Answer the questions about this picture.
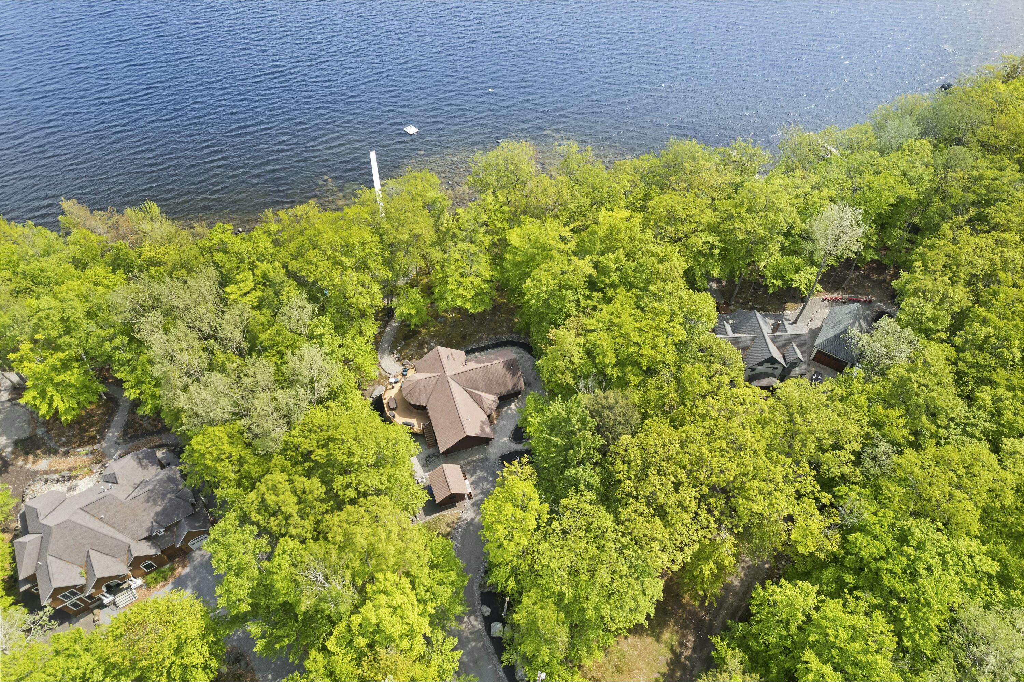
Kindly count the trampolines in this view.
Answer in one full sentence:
There are no trampolines in this view.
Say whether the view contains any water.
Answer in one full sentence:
Yes, there's water in this view.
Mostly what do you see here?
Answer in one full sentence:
The largest share of the image is taken up by trees.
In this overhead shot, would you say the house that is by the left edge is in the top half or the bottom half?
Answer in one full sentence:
The house that is by the left edge sits in the bottom half of the picture.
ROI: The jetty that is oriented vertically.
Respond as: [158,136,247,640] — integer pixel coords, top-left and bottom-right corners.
[369,148,386,217]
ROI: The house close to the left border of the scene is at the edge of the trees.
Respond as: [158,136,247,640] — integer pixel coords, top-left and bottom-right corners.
[14,448,214,617]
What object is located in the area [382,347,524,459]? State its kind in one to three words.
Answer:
house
